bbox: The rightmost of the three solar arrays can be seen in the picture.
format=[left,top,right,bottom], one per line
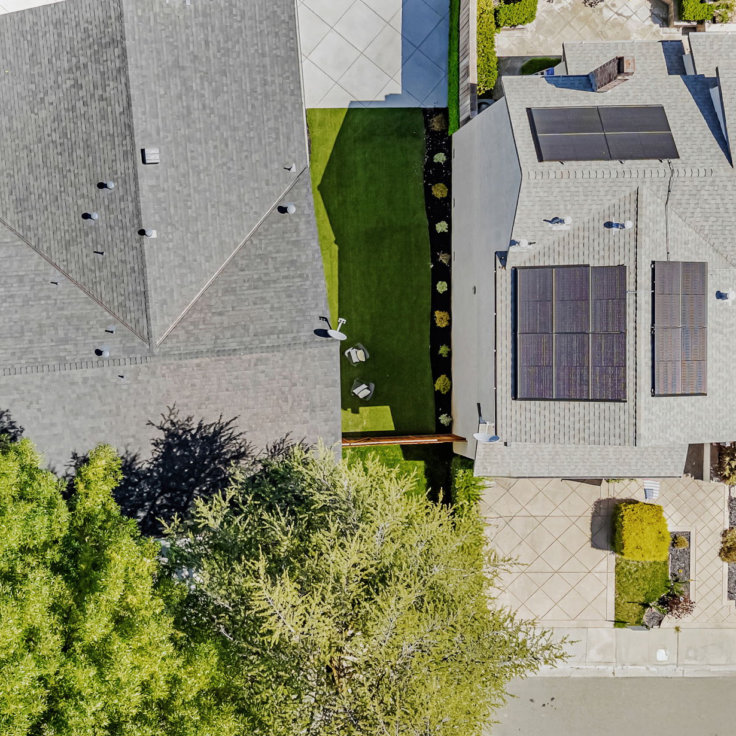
[649,261,707,395]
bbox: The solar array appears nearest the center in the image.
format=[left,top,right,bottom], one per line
[513,267,627,407]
